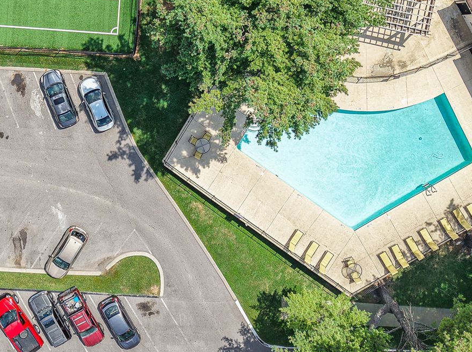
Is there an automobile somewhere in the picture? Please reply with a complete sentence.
Yes, the image includes an automobile.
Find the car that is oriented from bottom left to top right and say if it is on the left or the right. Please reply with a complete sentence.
The car that is oriented from bottom left to top right sits on the left side.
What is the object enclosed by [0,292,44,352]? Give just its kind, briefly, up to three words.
truck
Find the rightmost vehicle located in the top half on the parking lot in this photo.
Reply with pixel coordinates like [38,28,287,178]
[80,75,114,135]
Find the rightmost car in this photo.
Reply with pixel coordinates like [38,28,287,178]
[98,292,139,350]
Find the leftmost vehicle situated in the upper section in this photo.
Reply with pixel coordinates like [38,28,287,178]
[41,68,78,131]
